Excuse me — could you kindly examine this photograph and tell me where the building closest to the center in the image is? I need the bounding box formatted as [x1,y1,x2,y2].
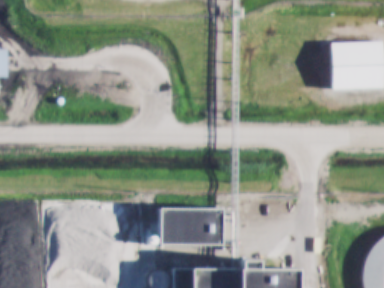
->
[160,207,234,246]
